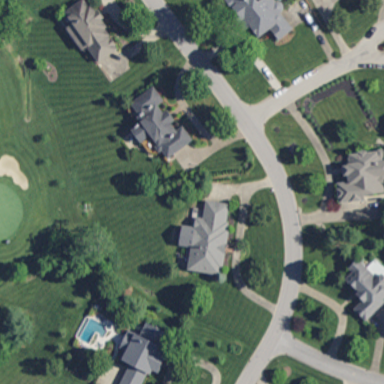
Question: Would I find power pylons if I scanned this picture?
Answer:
No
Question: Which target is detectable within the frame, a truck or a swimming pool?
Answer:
swimming pool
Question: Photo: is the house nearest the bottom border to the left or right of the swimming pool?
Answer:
right of it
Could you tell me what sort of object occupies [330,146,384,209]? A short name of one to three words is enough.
house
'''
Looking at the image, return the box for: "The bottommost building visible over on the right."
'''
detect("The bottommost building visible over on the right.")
[345,258,384,325]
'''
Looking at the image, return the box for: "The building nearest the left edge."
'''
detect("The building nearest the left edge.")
[63,0,114,64]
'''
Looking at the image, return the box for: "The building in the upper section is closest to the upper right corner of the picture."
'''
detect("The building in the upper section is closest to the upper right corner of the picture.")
[222,0,296,42]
